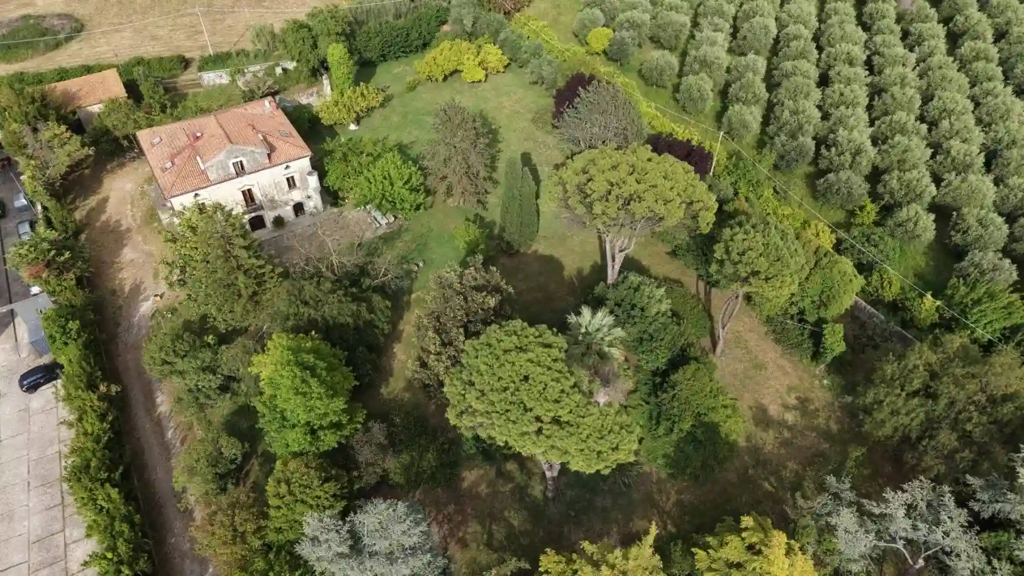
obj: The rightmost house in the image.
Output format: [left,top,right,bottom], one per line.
[131,100,325,256]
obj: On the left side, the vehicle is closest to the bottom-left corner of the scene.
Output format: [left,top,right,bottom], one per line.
[12,355,56,390]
